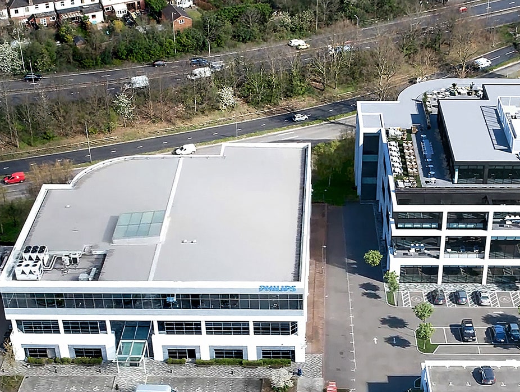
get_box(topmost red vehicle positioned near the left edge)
[1,170,25,184]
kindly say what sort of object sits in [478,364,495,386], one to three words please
car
